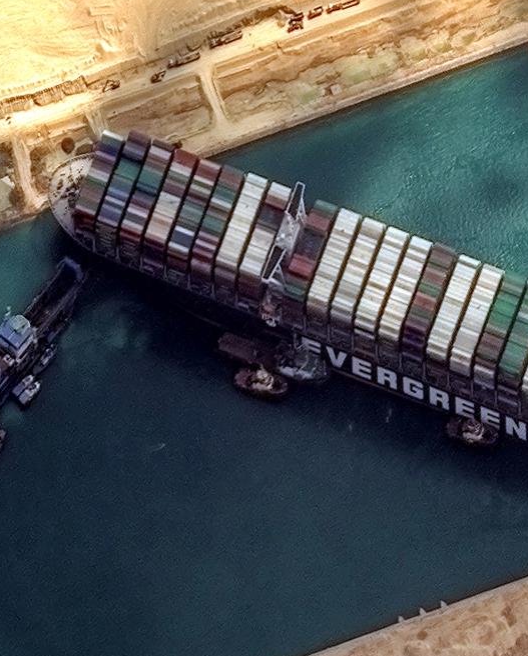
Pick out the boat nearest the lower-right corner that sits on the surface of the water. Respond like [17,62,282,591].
[447,420,497,450]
